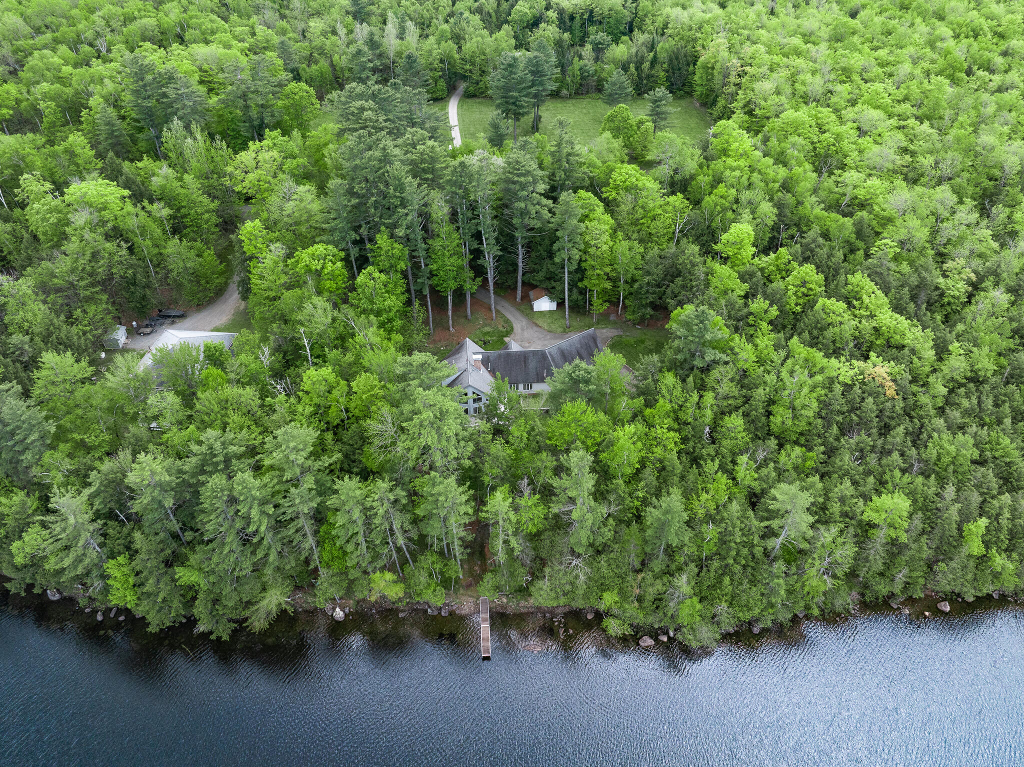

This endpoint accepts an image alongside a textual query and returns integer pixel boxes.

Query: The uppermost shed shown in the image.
[529,282,561,312]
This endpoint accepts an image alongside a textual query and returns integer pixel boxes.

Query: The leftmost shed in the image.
[101,324,129,349]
